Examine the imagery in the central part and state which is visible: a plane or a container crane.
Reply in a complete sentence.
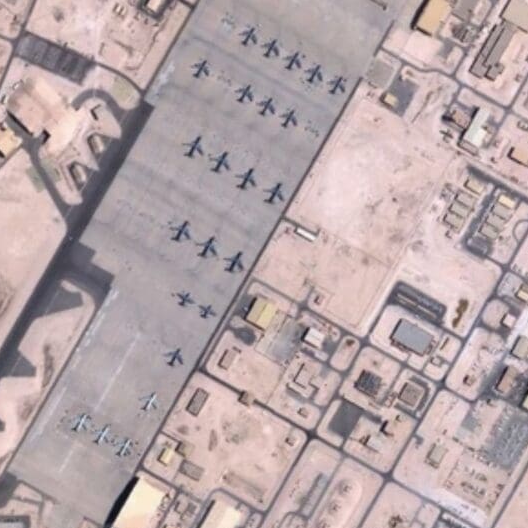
The feature located in the central part is a plane.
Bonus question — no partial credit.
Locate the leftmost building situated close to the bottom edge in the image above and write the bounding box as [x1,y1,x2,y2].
[112,478,166,528]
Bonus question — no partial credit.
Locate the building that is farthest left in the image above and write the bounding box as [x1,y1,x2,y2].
[0,124,20,156]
